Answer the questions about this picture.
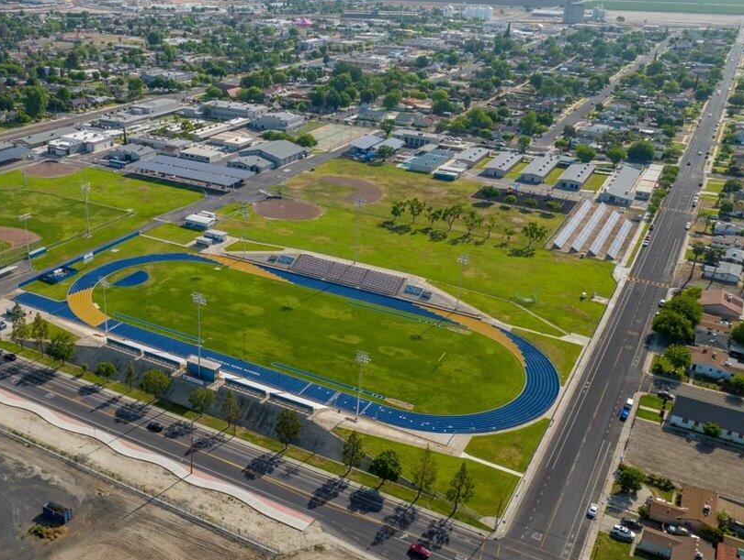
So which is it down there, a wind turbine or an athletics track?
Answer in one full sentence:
There is an athletics track in the scene.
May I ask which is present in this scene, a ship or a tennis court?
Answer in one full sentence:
Looking from above, you can make out a tennis court.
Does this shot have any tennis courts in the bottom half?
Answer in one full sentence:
No, no tennis court is visible in the bottom half.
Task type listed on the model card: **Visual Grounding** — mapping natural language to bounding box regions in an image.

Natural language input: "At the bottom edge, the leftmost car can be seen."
[406,541,431,559]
